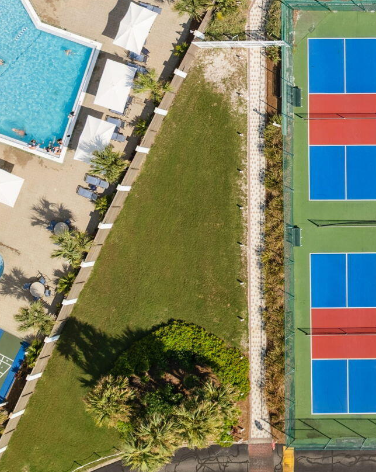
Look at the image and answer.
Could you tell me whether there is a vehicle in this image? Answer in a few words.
No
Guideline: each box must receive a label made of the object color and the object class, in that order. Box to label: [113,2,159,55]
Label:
white umbrella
